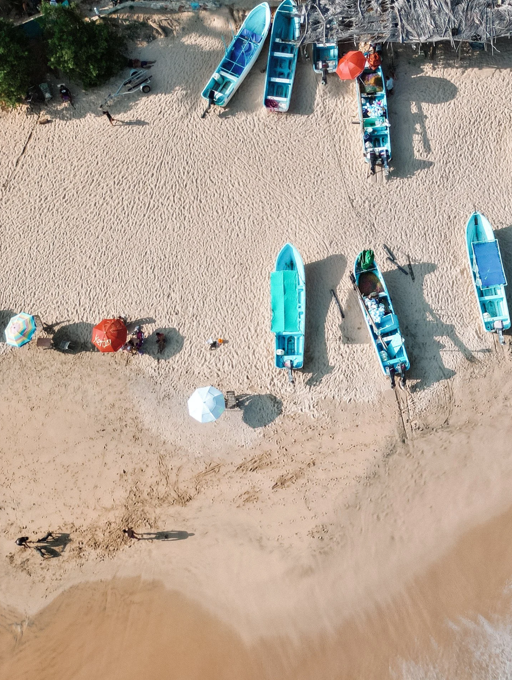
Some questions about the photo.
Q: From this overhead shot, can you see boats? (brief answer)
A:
Yes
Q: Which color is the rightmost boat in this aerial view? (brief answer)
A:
blue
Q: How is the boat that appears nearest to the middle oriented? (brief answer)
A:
from top to bottom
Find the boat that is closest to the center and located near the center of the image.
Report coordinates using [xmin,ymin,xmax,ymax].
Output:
[271,243,305,393]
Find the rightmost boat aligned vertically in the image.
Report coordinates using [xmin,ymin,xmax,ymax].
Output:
[468,212,512,354]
